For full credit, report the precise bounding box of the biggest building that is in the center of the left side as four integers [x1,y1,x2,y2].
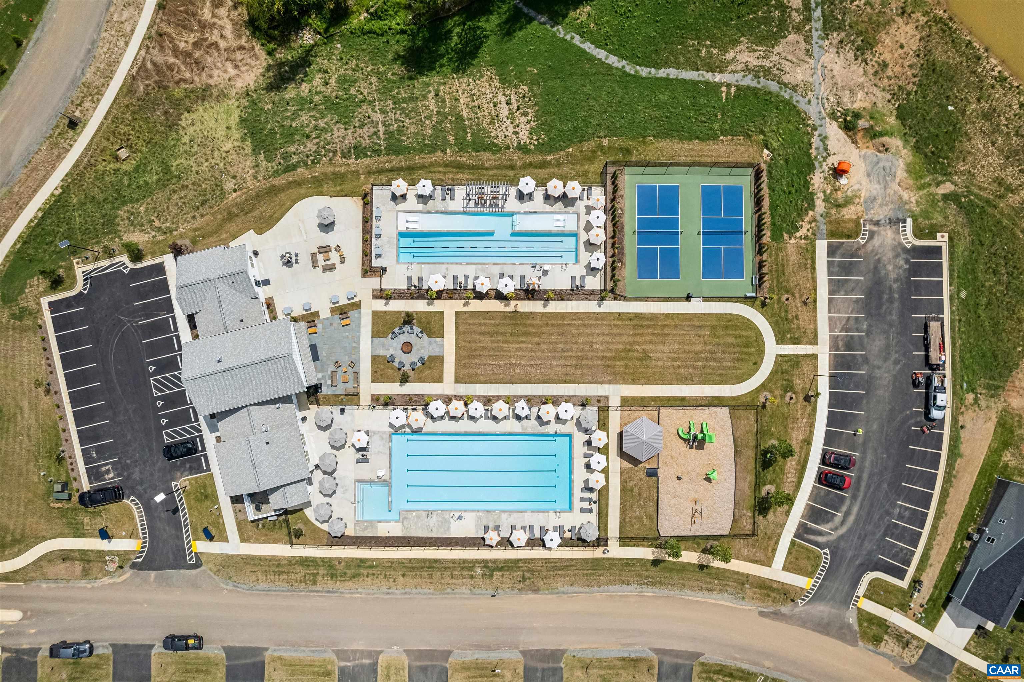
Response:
[176,244,321,509]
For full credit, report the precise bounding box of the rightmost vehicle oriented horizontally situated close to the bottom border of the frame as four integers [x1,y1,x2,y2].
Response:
[163,633,204,652]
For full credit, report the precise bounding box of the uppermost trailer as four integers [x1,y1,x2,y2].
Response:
[923,320,945,371]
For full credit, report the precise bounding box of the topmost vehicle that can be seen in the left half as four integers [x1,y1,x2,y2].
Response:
[164,440,200,461]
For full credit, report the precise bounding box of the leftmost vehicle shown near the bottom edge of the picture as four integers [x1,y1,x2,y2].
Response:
[50,640,96,660]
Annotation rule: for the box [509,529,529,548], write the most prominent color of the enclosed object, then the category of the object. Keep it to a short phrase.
white umbrella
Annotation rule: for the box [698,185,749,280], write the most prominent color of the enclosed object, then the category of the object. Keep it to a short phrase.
blue sports court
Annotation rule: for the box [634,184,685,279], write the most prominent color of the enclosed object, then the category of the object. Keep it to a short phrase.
blue sports court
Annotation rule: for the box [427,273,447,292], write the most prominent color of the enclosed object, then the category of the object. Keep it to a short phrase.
white umbrella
